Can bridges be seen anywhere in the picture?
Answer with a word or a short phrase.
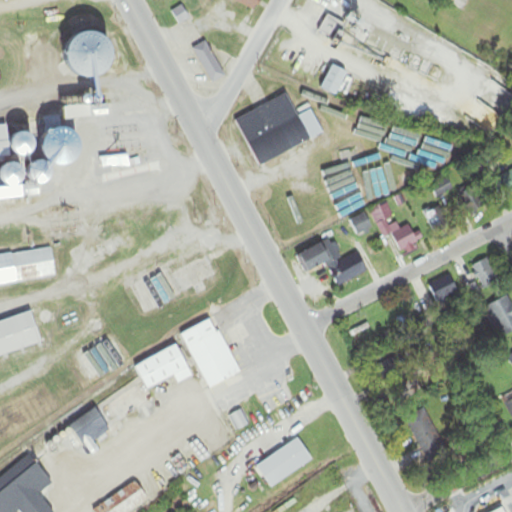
No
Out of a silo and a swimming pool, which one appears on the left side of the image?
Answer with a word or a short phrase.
silo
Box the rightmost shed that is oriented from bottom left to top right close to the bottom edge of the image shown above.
[254,436,314,488]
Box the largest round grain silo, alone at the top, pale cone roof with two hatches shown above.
[68,30,117,79]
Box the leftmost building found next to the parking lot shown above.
[134,342,192,389]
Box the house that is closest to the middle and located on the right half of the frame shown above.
[293,237,343,270]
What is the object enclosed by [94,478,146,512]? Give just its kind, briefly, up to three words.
building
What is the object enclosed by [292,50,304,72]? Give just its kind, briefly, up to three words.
vehicle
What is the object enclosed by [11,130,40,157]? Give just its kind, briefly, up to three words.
silo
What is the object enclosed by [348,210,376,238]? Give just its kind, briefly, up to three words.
house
